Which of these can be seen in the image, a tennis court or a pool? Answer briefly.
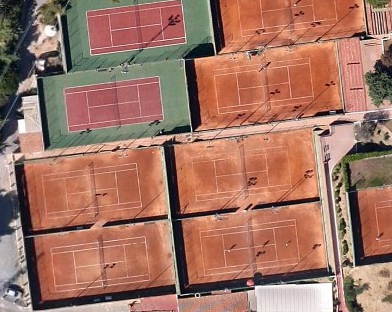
tennis court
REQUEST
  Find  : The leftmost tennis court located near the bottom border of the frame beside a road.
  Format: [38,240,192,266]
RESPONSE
[25,220,178,310]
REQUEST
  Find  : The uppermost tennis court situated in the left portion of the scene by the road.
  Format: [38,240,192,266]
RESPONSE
[62,0,214,74]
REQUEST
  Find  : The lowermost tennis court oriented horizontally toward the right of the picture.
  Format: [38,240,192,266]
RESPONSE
[174,201,329,293]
